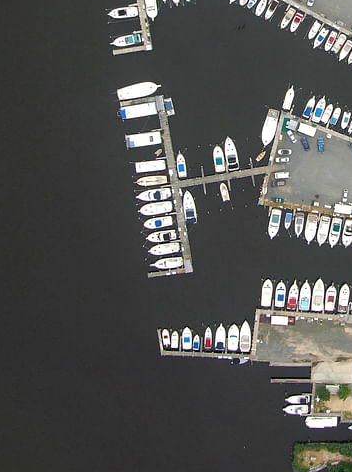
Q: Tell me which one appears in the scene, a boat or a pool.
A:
boat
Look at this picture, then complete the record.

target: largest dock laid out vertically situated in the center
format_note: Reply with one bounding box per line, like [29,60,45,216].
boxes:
[160,104,192,273]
